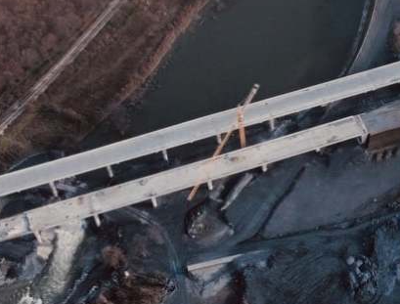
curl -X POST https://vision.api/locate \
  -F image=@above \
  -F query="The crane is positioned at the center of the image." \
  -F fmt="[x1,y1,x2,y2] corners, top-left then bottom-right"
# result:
[187,79,251,197]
